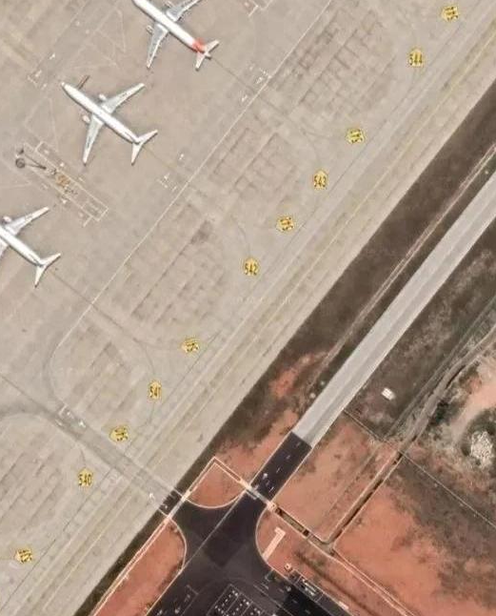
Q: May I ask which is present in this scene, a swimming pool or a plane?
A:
plane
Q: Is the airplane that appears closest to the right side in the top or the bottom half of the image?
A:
top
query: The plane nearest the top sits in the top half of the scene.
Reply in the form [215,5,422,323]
[132,0,218,69]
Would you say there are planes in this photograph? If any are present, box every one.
[62,83,156,166]
[132,0,218,69]
[0,205,60,283]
